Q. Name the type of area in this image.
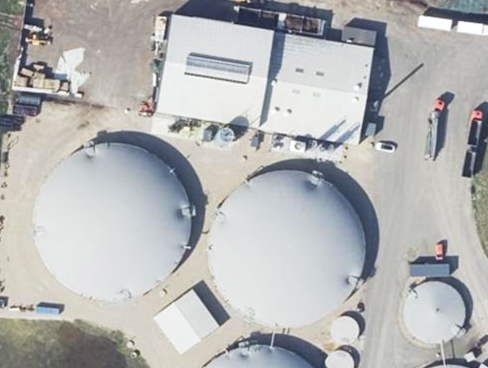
industrial area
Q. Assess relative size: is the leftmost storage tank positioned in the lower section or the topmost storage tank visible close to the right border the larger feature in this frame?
the leftmost storage tank positioned in the lower section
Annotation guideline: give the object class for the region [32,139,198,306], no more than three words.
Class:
storage tank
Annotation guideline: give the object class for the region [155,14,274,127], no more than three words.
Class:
building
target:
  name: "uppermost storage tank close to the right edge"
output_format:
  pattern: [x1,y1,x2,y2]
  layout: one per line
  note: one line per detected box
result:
[403,281,469,344]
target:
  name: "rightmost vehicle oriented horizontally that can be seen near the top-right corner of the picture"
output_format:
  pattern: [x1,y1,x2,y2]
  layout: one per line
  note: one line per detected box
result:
[457,22,488,37]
